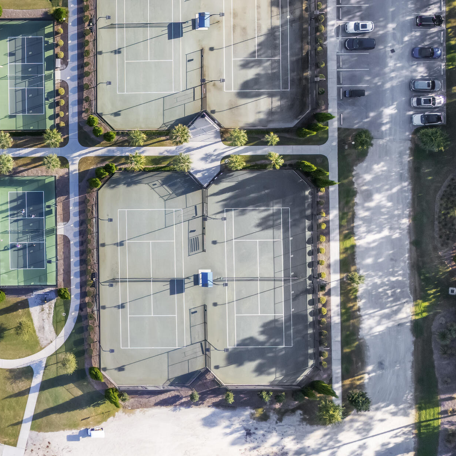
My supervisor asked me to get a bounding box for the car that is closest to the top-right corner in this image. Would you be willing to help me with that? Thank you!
[414,13,443,27]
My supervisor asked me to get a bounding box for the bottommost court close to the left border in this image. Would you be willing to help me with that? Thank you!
[0,176,57,286]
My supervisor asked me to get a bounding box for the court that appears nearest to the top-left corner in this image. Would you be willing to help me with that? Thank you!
[0,19,55,130]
